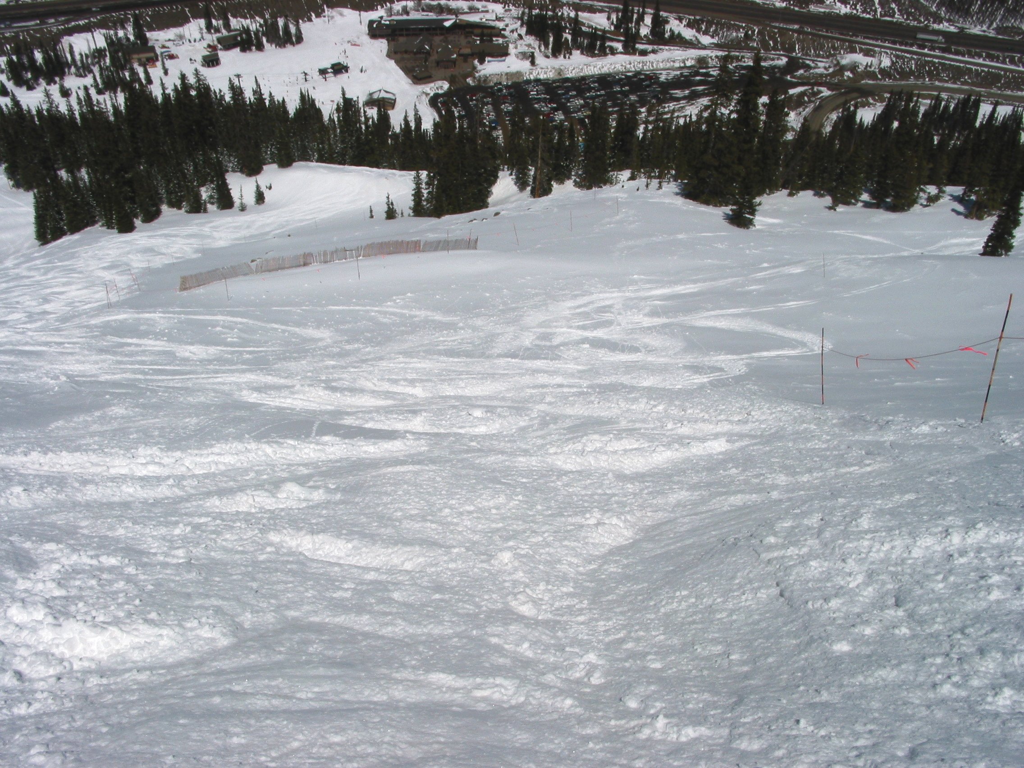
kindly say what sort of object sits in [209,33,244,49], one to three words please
barn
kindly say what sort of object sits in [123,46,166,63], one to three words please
building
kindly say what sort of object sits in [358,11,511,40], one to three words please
building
